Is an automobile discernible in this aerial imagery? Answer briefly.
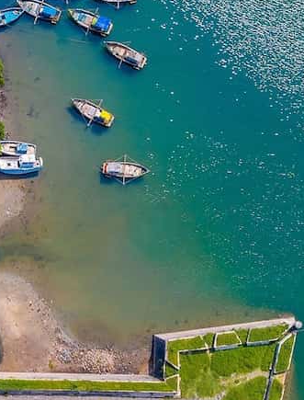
No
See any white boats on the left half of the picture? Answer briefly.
Yes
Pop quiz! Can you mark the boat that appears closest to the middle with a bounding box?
[99,149,151,191]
